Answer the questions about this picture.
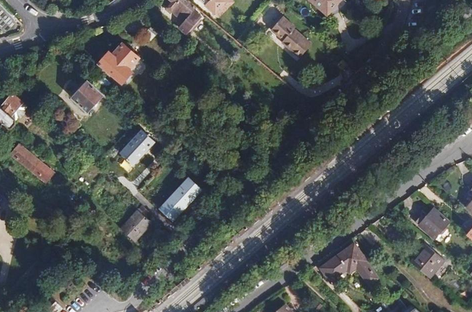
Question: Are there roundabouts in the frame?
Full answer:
No, no roundabout can be seen from above.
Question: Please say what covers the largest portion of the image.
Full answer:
What you mostly see from above here is trees.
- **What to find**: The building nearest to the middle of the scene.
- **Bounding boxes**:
[159,178,201,221]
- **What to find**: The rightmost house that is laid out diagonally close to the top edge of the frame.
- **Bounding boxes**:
[272,15,312,54]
